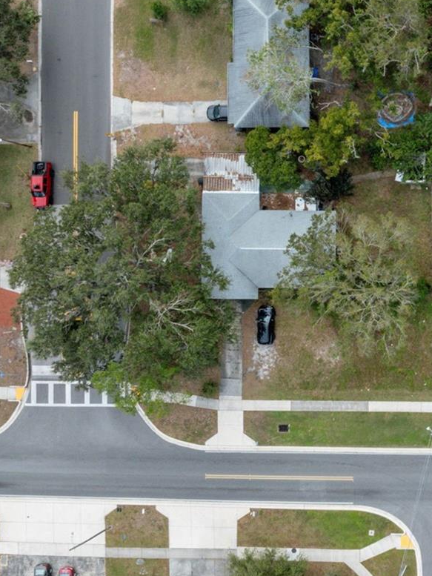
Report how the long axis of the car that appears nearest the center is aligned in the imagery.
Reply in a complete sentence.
In this picture, the car that appears nearest the center lies from top to bottom.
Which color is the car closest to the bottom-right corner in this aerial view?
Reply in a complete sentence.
In this view, the car closest to the bottom-right corner is black.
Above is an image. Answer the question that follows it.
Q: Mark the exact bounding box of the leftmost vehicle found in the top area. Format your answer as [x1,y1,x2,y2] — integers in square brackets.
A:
[29,160,56,210]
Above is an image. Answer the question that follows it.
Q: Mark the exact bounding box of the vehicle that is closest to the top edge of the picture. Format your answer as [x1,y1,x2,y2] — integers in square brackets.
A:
[202,102,228,122]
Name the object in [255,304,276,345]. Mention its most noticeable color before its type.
black car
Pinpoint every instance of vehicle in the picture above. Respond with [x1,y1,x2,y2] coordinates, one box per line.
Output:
[58,563,78,576]
[255,304,276,345]
[29,160,56,210]
[202,102,228,122]
[31,561,54,576]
